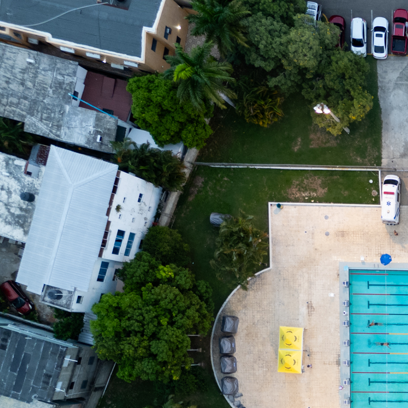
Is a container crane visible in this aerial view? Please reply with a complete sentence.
No, the picture doesn't show any container crane.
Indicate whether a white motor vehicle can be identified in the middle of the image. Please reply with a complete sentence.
No, there is no white motor vehicle in the middle of the image.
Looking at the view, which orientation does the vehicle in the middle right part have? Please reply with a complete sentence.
The vehicle in the middle right part is laid out vertically.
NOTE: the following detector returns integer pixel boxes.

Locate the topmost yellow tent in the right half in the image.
[279,326,308,350]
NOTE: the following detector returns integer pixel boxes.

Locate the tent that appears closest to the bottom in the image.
[278,350,307,373]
